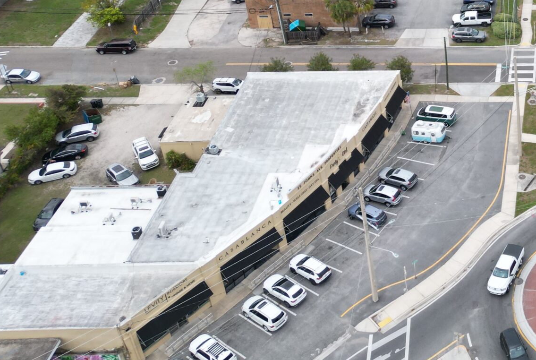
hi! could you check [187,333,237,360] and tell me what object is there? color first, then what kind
white car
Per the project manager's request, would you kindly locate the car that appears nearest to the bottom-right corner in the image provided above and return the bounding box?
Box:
[496,325,531,360]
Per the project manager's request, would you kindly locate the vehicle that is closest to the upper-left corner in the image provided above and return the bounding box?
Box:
[0,68,43,85]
